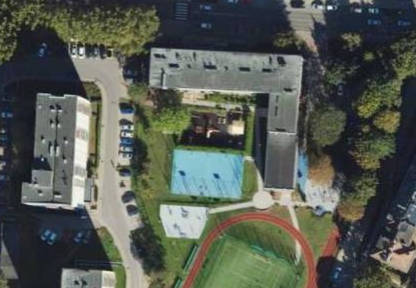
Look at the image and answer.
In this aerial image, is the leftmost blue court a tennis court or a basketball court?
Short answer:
basketball court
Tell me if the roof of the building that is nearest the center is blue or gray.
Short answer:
gray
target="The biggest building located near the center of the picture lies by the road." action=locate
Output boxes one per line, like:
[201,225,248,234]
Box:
[149,49,306,191]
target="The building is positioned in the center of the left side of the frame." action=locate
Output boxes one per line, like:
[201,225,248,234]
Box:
[22,94,97,209]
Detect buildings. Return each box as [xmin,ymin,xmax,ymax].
[22,94,97,209]
[149,49,306,191]
[61,268,114,288]
[372,162,416,270]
